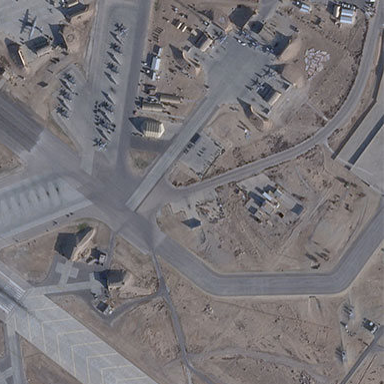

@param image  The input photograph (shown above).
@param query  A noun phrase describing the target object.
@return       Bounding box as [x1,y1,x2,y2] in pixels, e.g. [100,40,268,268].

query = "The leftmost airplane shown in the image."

[27,16,44,38]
